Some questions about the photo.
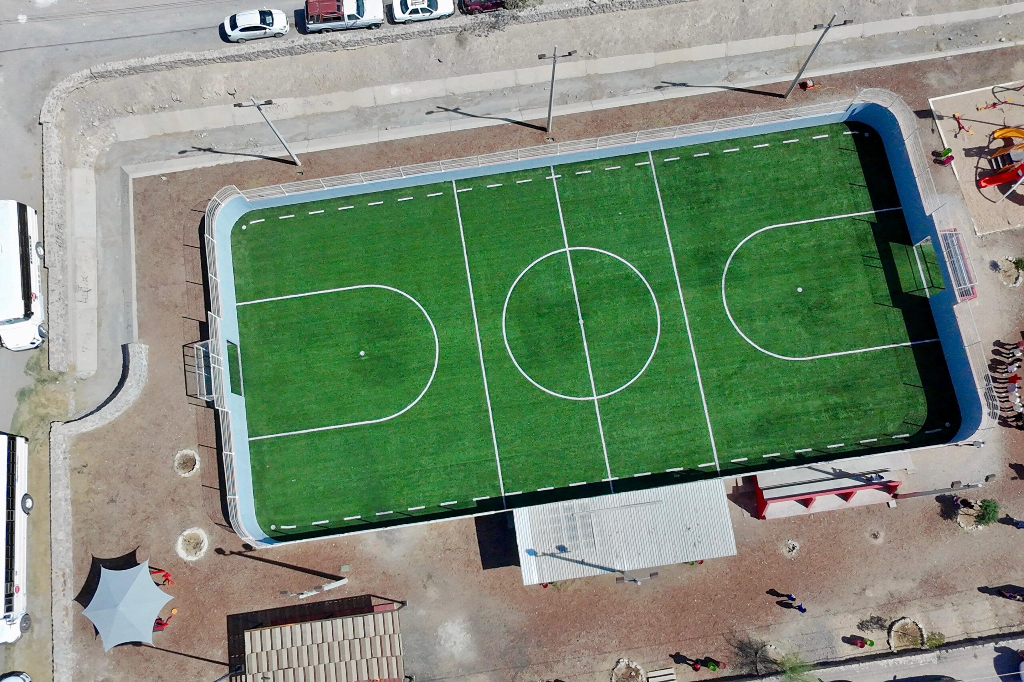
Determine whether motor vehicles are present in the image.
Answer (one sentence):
Yes, there is a motor vehicle in the image.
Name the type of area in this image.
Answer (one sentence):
It's a sports ground.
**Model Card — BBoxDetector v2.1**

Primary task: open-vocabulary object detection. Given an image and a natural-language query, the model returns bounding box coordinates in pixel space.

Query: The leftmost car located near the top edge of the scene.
[223,4,290,44]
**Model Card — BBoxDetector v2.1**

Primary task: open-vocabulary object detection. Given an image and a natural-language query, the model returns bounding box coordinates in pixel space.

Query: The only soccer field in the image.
[230,121,959,543]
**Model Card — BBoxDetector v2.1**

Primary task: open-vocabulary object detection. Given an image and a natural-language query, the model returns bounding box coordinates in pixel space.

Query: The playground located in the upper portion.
[928,79,1024,235]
